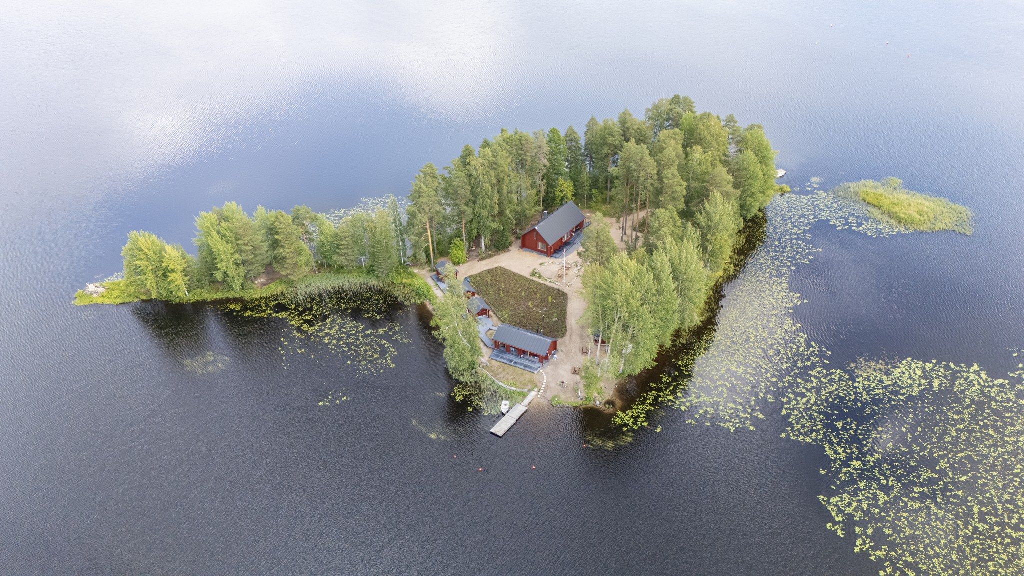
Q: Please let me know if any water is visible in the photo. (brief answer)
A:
Yes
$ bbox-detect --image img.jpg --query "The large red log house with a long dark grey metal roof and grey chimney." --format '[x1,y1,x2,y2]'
[519,200,593,259]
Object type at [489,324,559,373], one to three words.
house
